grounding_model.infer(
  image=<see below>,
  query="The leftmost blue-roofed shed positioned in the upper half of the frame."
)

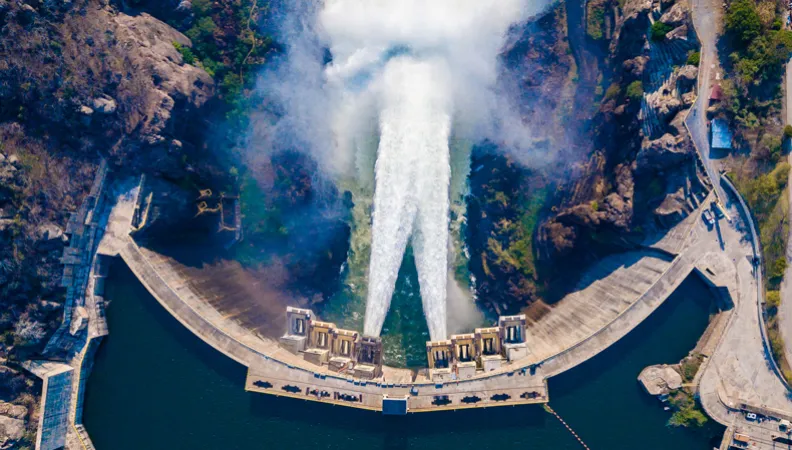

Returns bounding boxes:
[708,118,736,148]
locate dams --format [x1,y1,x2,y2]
[104,197,712,414]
